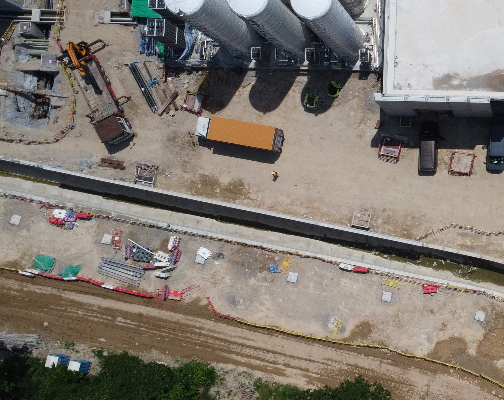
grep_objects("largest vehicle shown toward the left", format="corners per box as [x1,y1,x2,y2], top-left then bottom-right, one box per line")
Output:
[51,44,131,146]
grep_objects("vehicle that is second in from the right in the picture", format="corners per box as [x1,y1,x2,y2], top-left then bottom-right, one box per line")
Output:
[415,124,443,173]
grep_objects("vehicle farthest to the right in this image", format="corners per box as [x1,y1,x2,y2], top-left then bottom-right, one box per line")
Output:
[484,124,504,173]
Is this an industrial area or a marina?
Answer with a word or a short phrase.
industrial area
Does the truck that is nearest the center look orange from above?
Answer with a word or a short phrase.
Yes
